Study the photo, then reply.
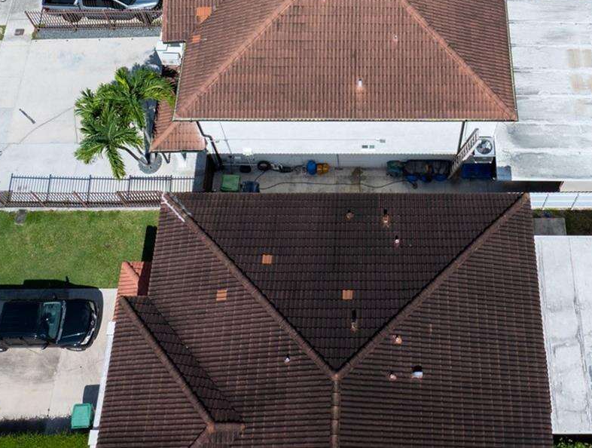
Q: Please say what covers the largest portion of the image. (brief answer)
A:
buildings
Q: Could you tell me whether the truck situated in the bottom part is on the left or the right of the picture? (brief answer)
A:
left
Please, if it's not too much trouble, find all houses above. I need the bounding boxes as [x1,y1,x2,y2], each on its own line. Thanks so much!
[147,0,519,174]
[93,190,554,448]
